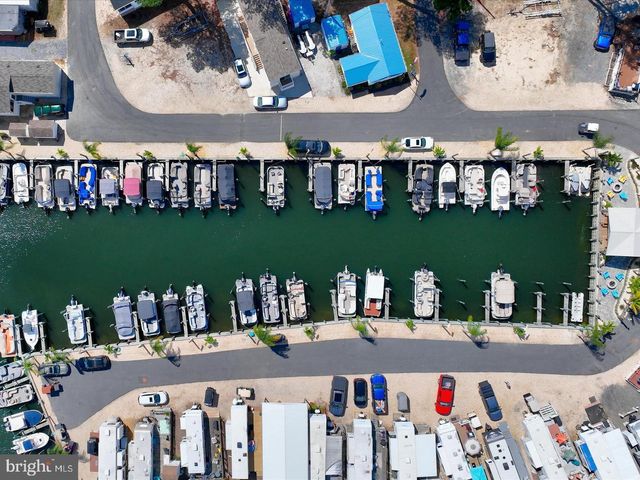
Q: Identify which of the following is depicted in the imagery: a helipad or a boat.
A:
boat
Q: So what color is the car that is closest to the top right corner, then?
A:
blue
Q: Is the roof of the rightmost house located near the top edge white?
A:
No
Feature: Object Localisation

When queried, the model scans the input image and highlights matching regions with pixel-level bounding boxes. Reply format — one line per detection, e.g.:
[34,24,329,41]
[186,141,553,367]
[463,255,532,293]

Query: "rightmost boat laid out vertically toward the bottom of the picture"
[489,262,515,324]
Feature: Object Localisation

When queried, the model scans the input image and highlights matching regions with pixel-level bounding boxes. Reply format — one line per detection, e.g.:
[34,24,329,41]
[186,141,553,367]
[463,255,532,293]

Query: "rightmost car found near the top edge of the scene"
[592,15,617,51]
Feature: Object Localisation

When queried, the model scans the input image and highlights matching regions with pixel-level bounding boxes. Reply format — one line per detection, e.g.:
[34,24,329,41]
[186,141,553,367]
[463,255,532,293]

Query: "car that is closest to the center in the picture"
[298,139,331,155]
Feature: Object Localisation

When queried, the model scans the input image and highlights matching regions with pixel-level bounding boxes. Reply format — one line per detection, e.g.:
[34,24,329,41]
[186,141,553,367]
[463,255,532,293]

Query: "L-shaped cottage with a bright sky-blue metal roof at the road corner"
[339,3,407,90]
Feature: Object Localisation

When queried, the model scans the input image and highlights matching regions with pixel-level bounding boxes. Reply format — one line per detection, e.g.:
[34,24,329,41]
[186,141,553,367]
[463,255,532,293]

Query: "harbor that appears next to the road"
[0,157,601,480]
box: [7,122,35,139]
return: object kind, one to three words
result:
shed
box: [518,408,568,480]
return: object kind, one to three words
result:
vehicle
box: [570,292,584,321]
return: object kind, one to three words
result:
pier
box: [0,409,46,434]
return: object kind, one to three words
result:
boat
